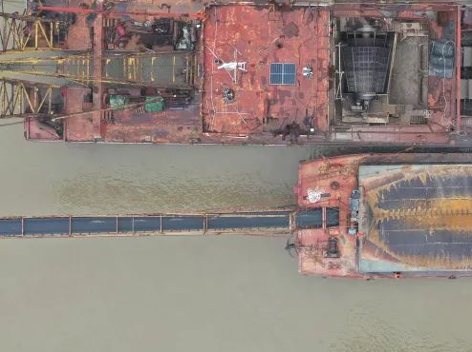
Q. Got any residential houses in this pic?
No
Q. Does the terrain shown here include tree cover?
No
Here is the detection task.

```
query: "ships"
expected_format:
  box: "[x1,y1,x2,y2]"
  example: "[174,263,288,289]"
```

[0,153,472,278]
[0,0,472,149]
